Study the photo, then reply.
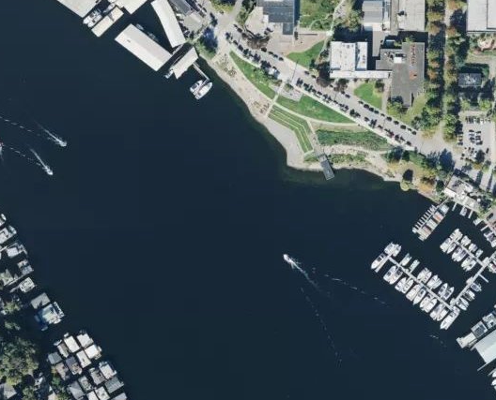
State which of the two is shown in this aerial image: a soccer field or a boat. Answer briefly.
boat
